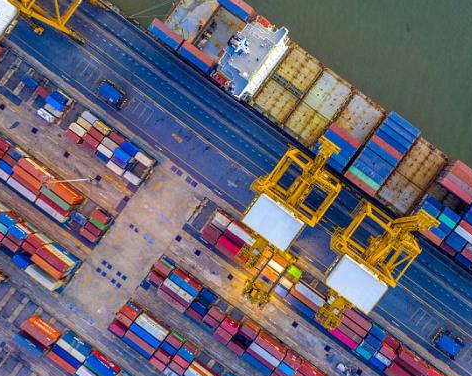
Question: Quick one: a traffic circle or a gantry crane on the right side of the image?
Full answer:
Looking on the right side of the image, you will find a gantry crane.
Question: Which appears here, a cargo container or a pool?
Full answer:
Looking from above, you can make out a cargo container.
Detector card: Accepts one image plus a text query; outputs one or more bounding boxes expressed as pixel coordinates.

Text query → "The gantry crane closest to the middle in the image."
[223,134,346,279]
